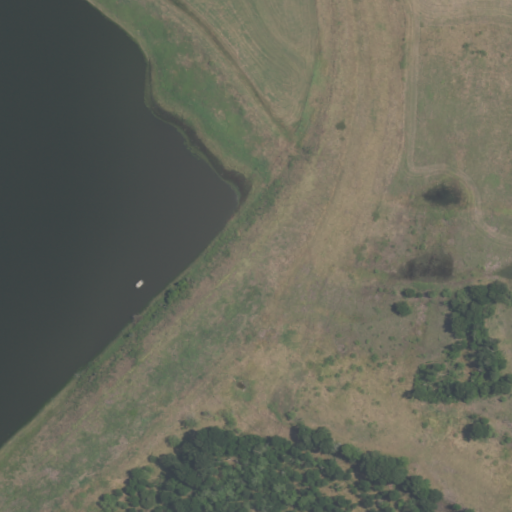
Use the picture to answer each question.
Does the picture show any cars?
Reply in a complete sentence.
No, there isn't any car down there.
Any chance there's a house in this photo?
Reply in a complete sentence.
No, the picture doesn't show any house.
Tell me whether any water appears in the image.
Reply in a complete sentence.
Yes, there is water in the image.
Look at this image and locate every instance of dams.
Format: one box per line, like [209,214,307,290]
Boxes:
[0,140,290,512]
